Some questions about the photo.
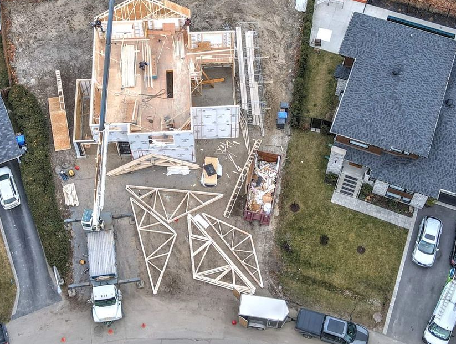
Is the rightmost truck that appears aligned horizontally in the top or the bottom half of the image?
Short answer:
bottom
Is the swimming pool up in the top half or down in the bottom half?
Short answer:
top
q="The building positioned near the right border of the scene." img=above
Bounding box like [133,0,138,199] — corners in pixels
[325,11,456,211]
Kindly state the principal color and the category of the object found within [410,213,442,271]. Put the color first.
white car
